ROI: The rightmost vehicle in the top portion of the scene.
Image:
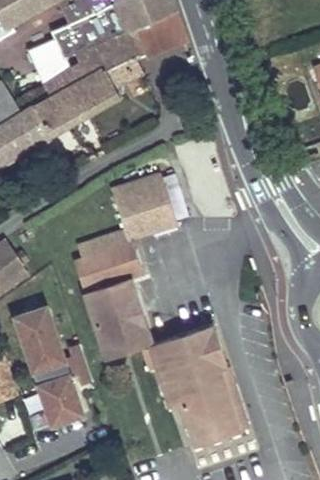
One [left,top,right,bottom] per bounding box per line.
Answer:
[250,180,266,201]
